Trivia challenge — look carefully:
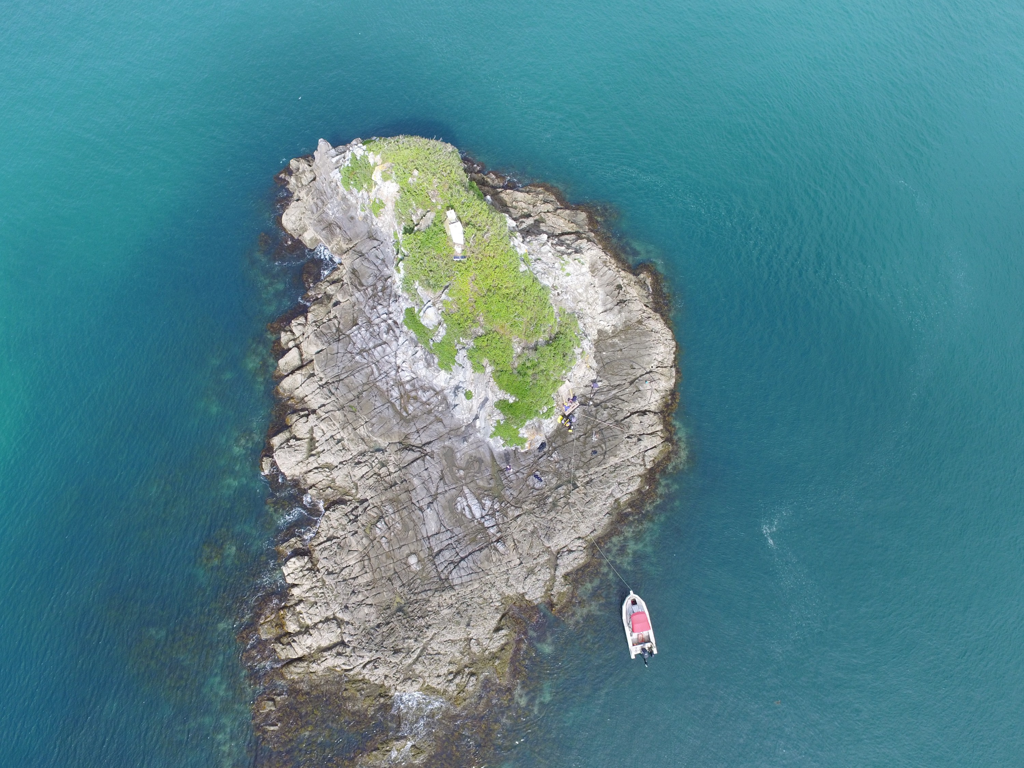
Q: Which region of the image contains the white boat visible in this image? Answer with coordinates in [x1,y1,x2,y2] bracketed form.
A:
[622,590,657,667]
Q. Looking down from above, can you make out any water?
Yes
